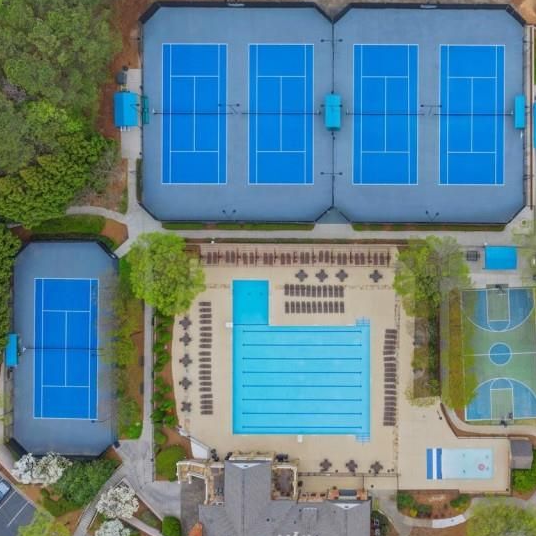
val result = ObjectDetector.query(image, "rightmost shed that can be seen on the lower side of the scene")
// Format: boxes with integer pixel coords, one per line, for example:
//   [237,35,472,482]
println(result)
[509,438,535,470]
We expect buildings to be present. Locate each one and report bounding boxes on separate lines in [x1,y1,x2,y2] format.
[509,438,535,470]
[197,457,372,536]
